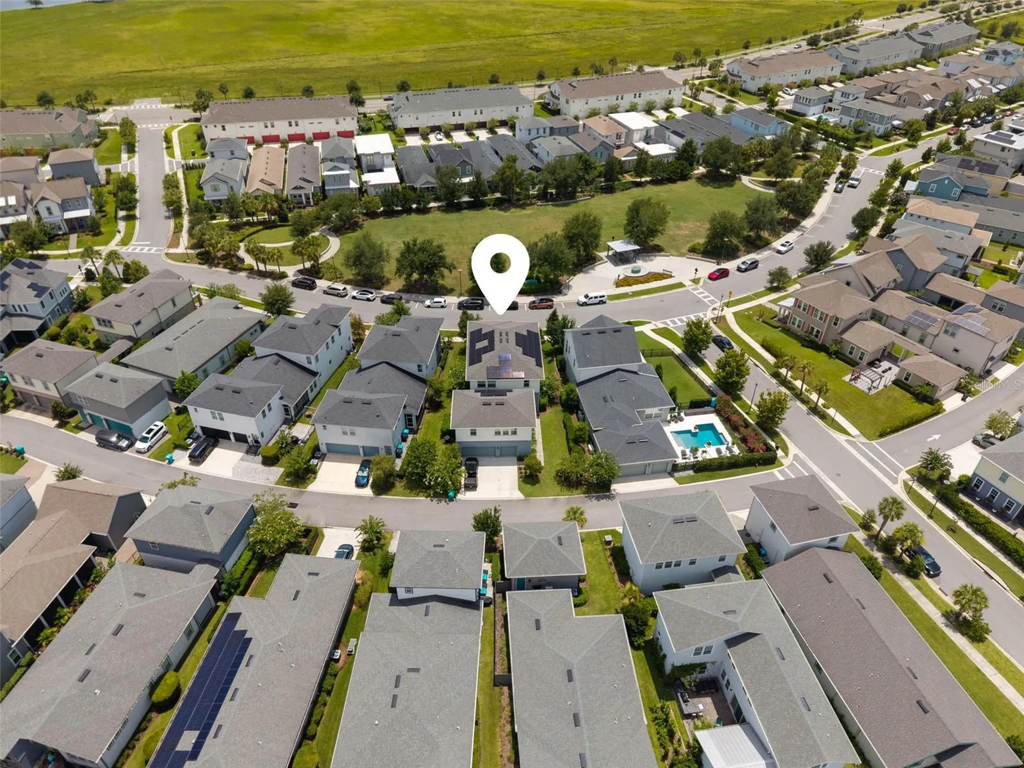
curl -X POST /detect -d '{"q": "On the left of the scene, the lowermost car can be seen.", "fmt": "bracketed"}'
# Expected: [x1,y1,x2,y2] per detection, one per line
[333,539,355,560]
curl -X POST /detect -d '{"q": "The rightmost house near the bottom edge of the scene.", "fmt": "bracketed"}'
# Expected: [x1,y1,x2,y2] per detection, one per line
[762,549,1024,768]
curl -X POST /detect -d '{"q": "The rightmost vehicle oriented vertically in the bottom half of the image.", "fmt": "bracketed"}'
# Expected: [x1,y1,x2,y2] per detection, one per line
[463,457,479,490]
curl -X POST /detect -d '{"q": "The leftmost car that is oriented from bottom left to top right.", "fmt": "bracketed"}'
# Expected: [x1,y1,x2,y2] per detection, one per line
[134,422,168,450]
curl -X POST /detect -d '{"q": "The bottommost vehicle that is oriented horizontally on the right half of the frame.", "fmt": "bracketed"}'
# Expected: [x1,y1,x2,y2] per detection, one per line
[968,433,1007,448]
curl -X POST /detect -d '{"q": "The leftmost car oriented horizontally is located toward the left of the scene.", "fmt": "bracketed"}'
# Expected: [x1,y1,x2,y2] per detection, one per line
[94,429,132,449]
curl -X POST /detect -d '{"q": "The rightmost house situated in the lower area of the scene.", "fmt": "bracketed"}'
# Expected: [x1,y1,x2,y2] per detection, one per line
[967,436,1024,527]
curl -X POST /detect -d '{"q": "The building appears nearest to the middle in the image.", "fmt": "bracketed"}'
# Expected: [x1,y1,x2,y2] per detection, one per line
[450,321,544,457]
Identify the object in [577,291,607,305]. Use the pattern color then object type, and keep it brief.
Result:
white car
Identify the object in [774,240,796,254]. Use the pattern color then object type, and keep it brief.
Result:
white car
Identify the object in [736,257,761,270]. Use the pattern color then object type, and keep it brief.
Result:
gray vehicle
